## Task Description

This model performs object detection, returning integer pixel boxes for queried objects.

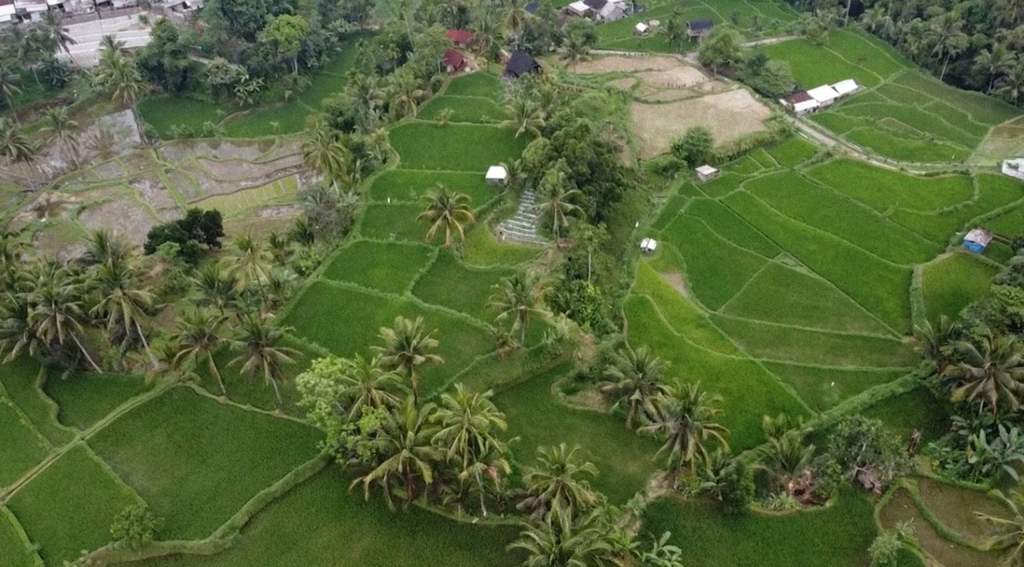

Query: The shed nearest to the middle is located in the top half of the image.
[487,171,507,192]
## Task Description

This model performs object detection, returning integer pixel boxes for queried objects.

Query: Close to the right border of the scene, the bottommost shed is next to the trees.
[965,230,995,259]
